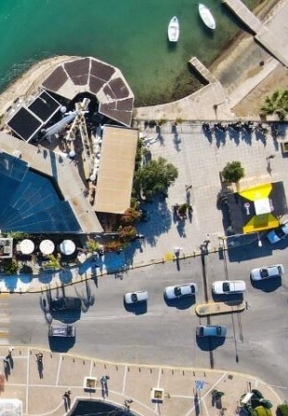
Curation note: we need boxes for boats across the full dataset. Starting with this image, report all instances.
[168,15,179,44]
[200,3,216,31]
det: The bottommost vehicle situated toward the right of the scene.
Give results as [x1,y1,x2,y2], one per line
[194,324,225,337]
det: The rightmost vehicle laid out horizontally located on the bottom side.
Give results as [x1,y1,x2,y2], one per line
[249,264,283,281]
